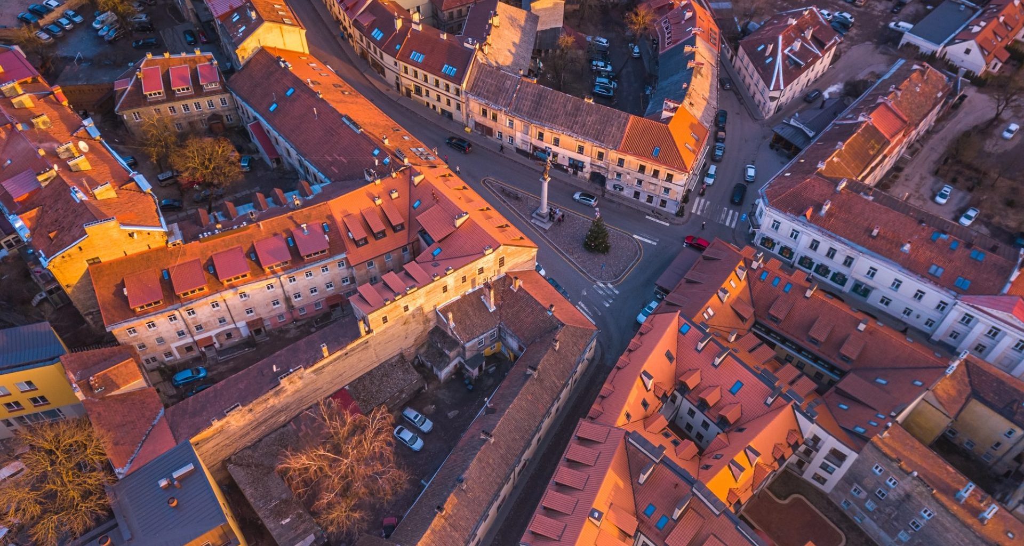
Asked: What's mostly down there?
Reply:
buildings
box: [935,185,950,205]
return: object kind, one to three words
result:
car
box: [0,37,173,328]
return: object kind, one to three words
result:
house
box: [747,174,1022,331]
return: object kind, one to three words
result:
building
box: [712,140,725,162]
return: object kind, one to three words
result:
vehicle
